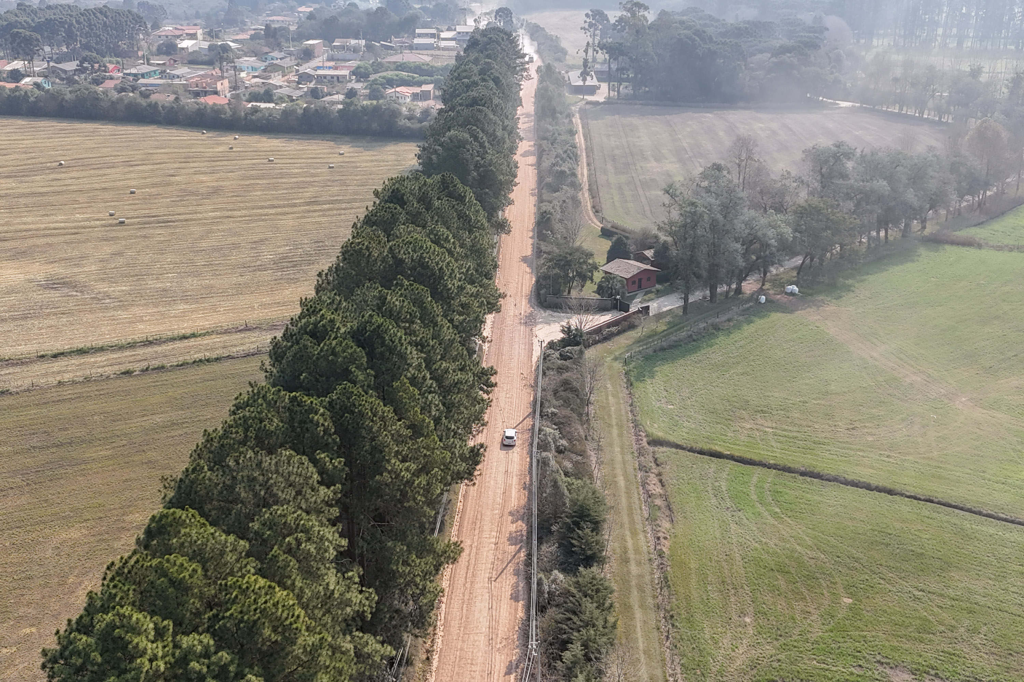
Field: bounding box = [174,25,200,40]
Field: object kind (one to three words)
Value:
house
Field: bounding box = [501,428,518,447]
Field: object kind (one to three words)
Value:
car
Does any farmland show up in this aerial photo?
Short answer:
Yes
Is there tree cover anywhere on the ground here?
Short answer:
Yes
